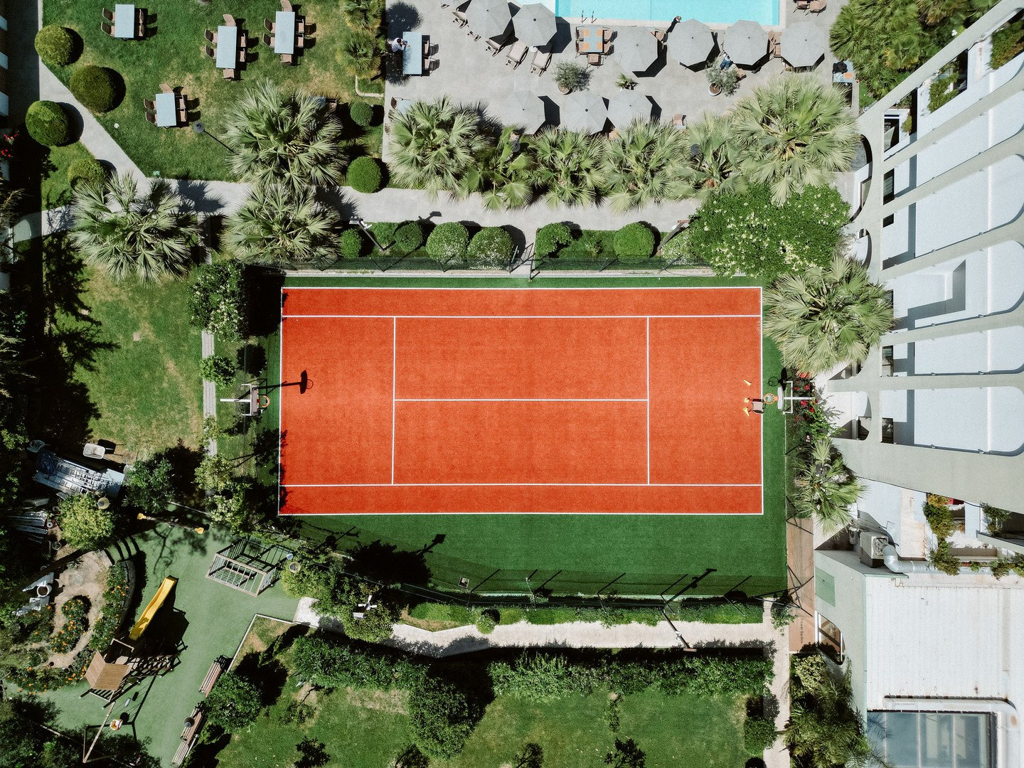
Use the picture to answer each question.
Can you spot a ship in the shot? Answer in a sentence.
No, no ship is visible in the view.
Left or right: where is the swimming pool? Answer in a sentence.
The swimming pool appears in the right half of the scene.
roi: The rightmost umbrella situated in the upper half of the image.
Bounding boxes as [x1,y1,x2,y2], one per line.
[780,21,825,68]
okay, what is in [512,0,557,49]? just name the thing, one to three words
umbrella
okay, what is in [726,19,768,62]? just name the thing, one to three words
umbrella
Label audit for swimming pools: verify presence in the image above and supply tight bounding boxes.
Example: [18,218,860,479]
[557,0,779,25]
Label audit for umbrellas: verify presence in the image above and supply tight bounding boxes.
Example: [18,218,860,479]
[465,0,511,41]
[726,19,768,62]
[667,17,715,67]
[780,21,825,68]
[614,26,658,73]
[502,90,545,133]
[564,90,608,133]
[512,0,557,49]
[608,87,650,130]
